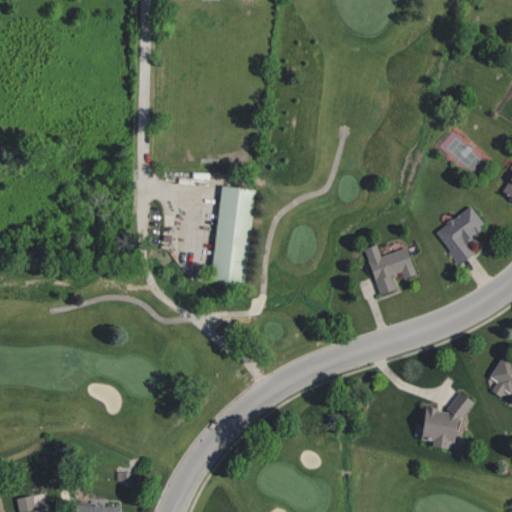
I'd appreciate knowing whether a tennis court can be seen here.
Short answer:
Yes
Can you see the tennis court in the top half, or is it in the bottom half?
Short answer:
top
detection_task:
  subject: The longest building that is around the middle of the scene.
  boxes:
[212,186,256,282]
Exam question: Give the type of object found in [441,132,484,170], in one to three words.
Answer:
tennis court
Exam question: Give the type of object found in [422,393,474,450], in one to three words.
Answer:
house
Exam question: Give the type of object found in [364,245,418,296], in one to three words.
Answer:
house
